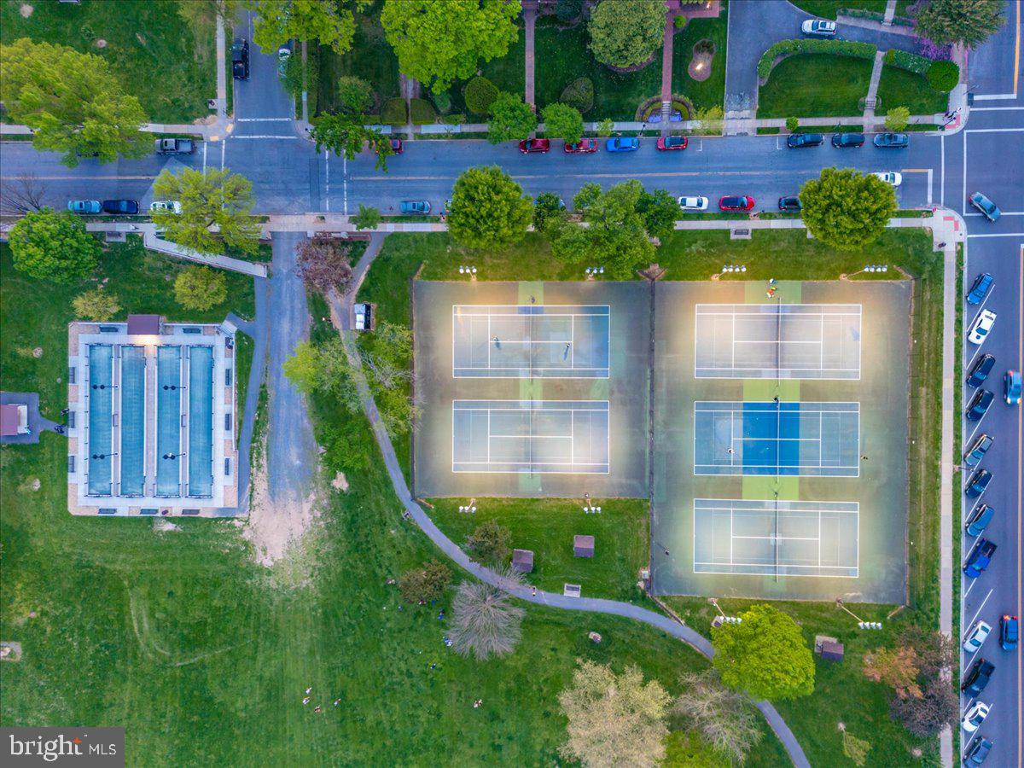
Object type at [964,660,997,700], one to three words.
truck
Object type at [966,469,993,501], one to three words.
car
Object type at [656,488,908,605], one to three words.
tennis court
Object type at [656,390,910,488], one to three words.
tennis court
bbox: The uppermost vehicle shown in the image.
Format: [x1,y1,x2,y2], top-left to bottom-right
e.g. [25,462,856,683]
[804,16,840,34]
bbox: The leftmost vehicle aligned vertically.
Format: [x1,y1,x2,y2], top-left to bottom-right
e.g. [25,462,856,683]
[231,37,248,79]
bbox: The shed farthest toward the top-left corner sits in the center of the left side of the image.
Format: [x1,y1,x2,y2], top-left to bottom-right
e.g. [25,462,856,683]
[127,315,174,335]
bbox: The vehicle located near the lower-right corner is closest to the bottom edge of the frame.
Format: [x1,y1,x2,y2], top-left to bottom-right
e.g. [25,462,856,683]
[964,740,992,768]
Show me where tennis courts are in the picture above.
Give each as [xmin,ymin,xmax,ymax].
[415,281,651,390]
[656,488,908,605]
[657,279,911,390]
[656,390,910,488]
[415,390,651,499]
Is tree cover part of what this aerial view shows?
Yes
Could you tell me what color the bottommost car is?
blue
